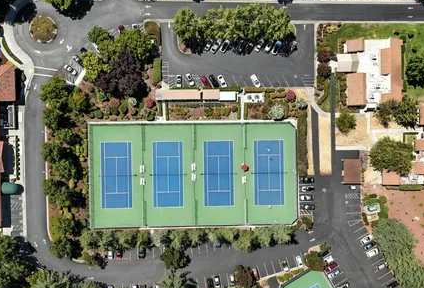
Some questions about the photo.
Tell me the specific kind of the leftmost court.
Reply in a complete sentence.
From above, the leftmost court can be identified as a tennis court.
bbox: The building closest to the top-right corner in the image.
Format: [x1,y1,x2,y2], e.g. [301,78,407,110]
[335,36,403,111]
